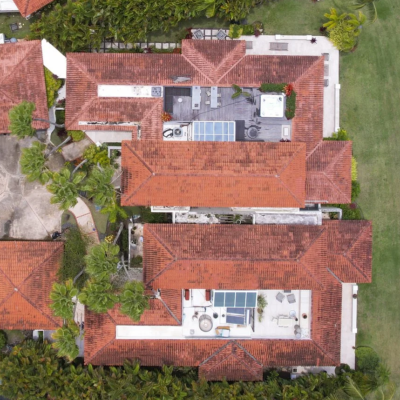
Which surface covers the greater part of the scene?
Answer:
buildings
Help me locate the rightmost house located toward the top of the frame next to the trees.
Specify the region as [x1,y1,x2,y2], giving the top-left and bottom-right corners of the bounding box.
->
[42,34,353,225]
